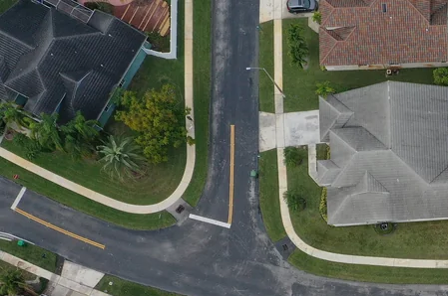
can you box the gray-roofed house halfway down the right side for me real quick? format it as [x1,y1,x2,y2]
[317,80,448,227]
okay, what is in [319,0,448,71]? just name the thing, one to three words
house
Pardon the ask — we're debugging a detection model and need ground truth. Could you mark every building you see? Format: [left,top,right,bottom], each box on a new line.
[0,0,150,132]
[319,0,448,71]
[317,80,448,227]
